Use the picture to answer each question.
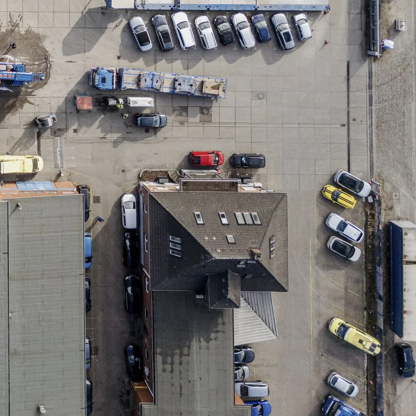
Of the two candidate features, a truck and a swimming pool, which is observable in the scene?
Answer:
truck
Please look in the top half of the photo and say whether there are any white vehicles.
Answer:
Yes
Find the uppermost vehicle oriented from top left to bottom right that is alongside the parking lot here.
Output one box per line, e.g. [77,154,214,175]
[334,166,371,196]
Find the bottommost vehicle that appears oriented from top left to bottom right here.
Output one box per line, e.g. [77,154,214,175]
[325,392,363,416]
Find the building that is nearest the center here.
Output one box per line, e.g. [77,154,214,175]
[136,158,289,311]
